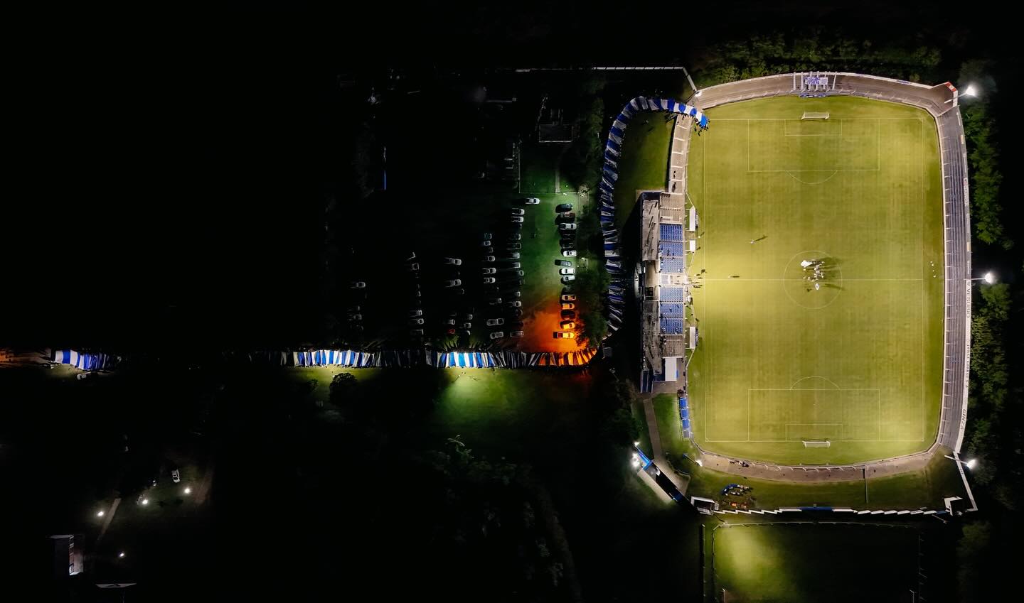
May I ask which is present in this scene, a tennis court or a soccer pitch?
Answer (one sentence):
Looking from above, you can make out a soccer pitch.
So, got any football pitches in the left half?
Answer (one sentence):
No, there is no football pitch in the left half.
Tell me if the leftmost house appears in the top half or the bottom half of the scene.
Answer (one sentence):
You can find the leftmost house in the bottom half.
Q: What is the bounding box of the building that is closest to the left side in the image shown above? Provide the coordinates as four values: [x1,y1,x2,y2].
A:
[54,532,77,577]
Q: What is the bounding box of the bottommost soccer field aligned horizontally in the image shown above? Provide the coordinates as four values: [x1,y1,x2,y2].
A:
[714,523,919,603]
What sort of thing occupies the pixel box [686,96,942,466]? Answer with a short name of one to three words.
soccer field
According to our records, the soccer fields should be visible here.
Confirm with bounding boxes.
[686,96,942,466]
[714,523,919,603]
